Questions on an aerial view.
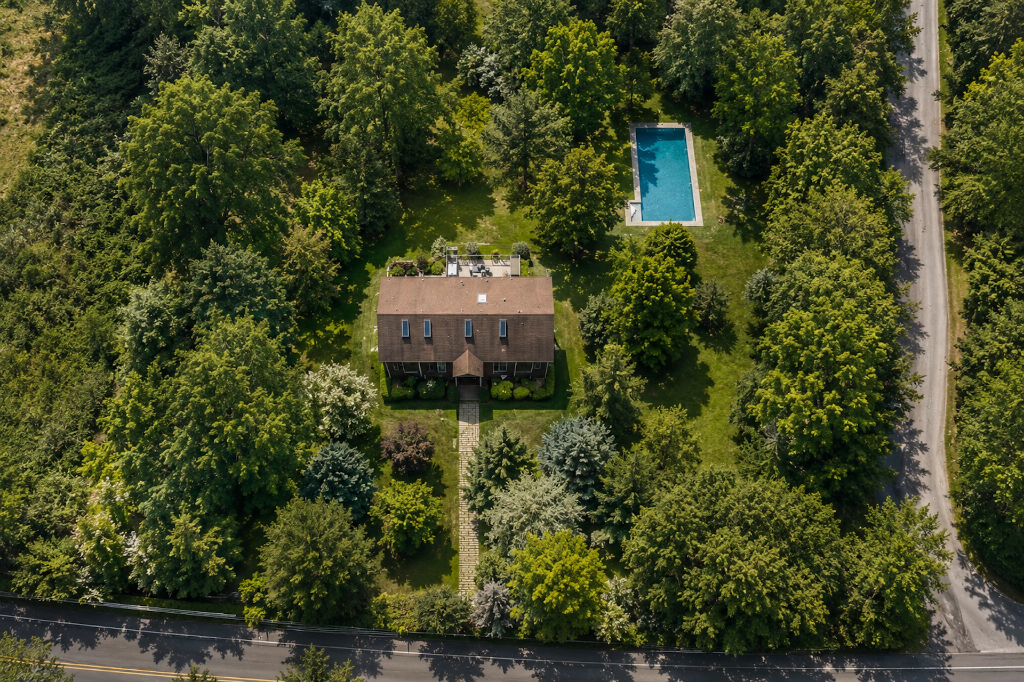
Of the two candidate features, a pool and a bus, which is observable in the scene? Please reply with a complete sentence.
Of the two, only a pool appears.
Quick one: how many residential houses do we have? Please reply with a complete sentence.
I count just 1 residential house.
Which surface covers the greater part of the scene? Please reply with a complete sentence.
What you mostly see from above here is trees.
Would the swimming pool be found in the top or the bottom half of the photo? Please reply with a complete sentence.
The swimming pool is in the top half of the image.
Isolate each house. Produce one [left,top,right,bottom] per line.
[377,270,554,388]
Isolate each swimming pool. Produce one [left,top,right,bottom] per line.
[623,122,703,226]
